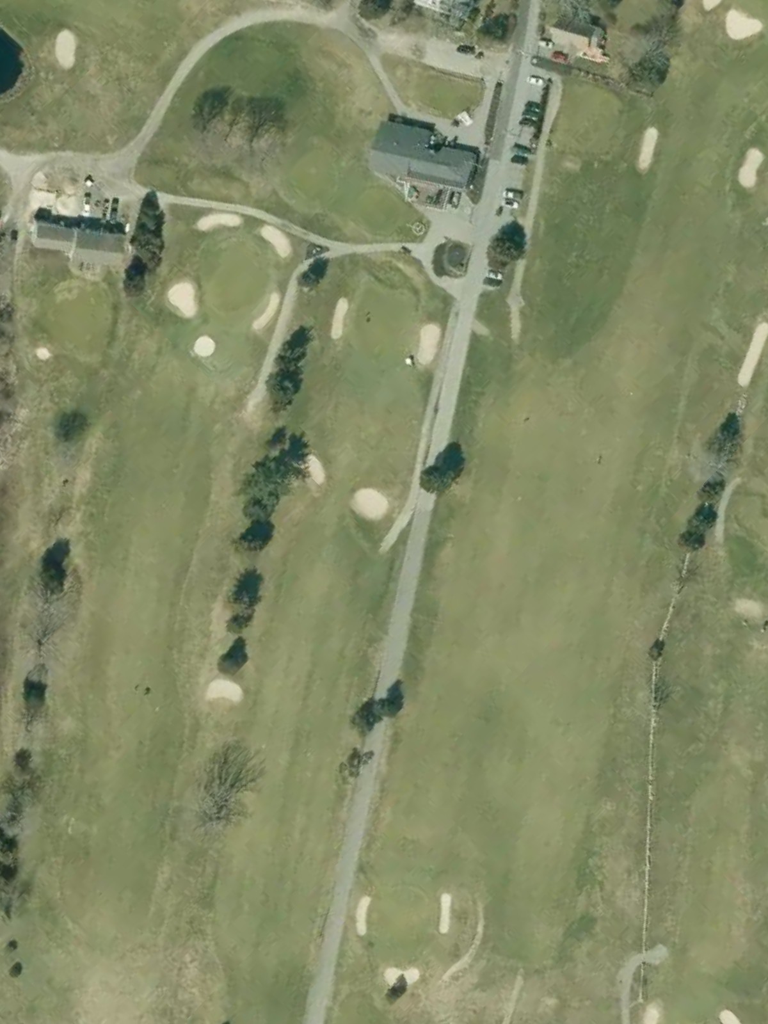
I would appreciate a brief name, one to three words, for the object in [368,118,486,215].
building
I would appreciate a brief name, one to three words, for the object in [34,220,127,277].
shed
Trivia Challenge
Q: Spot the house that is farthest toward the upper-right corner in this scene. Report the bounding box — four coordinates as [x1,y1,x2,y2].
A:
[549,14,611,64]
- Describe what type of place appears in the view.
golf course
